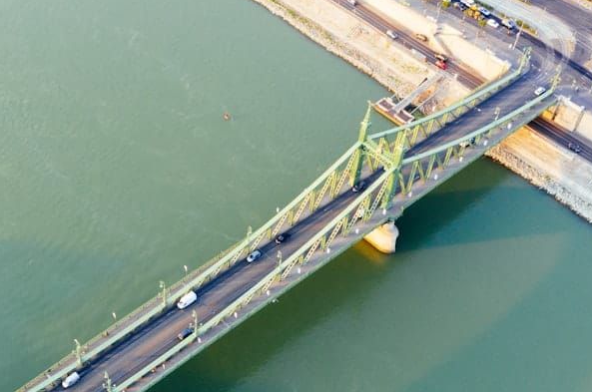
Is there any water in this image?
Yes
